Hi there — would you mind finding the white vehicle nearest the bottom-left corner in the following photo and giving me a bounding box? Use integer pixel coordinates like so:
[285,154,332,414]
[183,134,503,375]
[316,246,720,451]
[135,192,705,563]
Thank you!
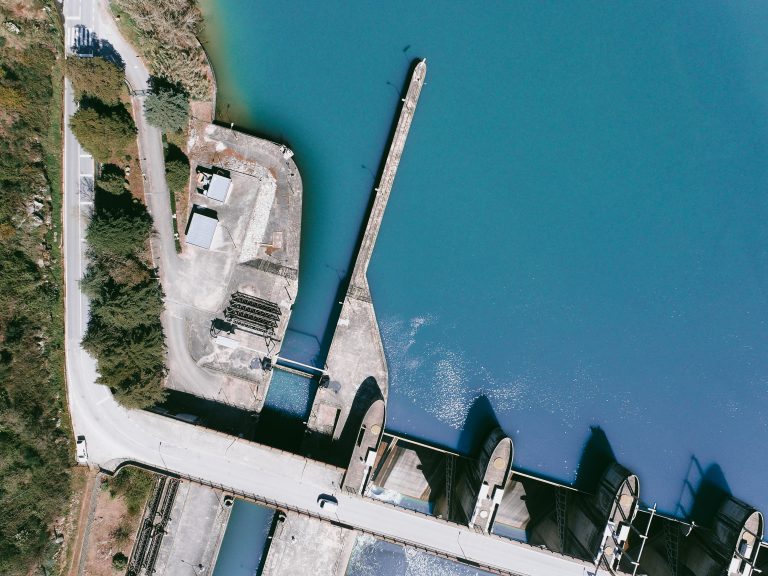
[76,439,88,463]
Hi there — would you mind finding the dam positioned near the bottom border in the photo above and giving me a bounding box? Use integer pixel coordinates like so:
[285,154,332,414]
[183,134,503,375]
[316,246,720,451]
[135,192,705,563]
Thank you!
[343,395,768,576]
